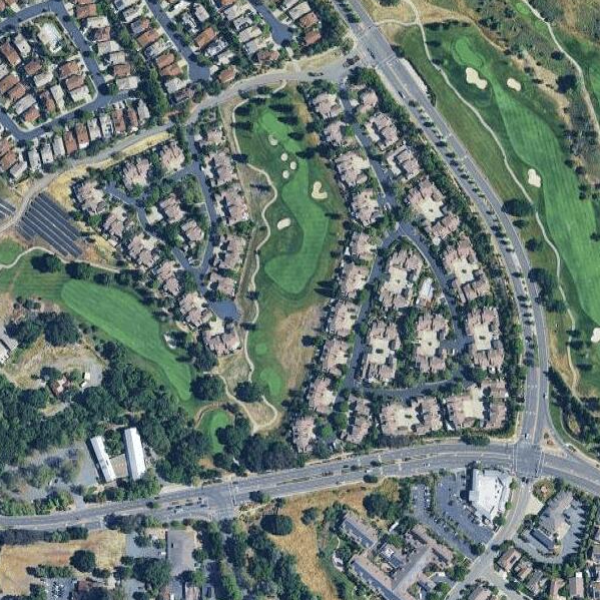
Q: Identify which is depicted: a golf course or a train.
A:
golf course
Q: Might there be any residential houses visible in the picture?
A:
Yes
